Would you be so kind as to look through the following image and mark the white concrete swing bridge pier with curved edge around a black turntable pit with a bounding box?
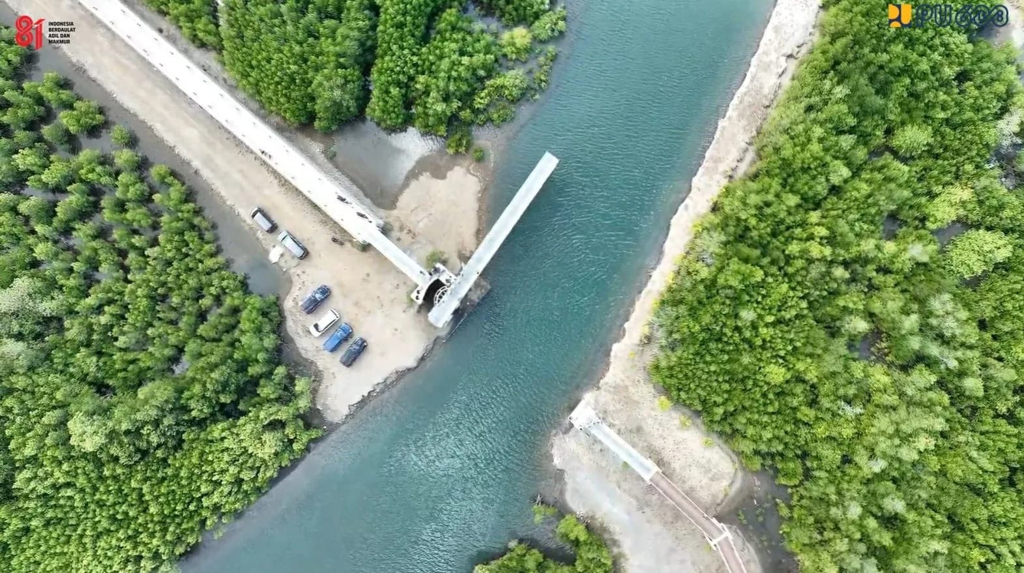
[410,263,456,304]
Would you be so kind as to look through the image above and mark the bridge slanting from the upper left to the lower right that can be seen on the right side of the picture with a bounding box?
[589,422,663,487]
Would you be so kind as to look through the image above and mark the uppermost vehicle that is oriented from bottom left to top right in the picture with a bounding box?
[298,283,331,313]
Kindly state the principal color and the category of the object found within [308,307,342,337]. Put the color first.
white car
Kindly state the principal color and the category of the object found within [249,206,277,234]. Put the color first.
white van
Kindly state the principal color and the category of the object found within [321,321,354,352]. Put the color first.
blue truck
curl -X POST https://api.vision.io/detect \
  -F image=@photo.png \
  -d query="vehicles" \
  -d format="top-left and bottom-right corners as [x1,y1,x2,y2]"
[331,238,343,245]
[321,321,354,352]
[337,193,348,202]
[257,149,270,157]
[277,229,310,260]
[355,212,367,219]
[249,206,277,234]
[308,307,342,337]
[298,283,331,313]
[338,336,369,367]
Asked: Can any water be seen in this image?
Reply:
Yes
